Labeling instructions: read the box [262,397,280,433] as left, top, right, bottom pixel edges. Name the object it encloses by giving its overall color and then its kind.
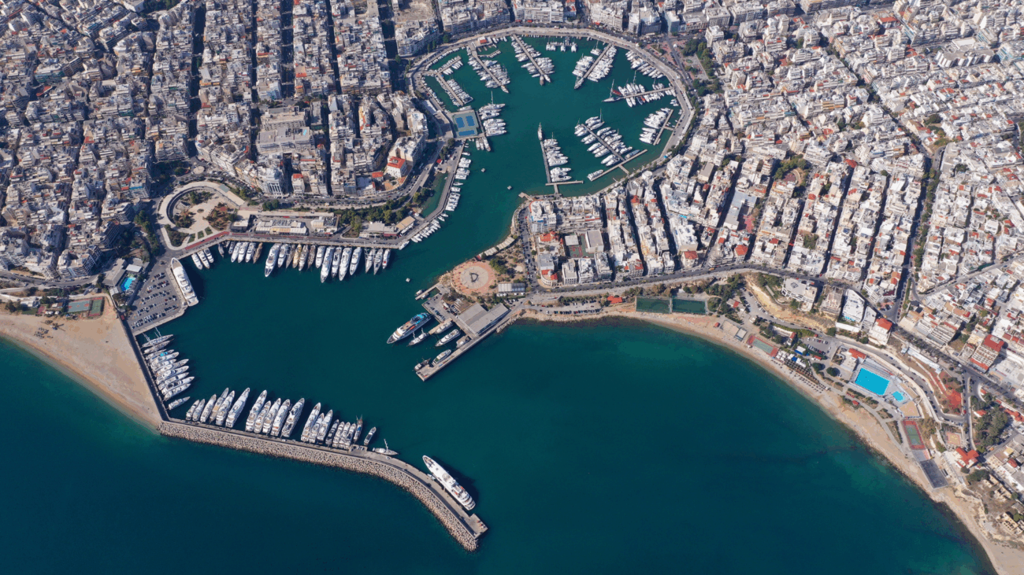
white boat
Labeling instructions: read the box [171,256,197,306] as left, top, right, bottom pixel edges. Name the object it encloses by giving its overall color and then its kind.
white ship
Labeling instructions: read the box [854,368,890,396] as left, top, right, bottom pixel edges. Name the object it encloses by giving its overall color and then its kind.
blue swimming pool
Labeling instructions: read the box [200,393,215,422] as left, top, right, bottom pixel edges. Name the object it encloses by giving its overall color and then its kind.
white boat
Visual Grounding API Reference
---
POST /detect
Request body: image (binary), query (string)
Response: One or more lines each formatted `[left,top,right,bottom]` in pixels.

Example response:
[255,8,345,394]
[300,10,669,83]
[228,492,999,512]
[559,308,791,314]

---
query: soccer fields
[636,296,671,313]
[672,297,706,314]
